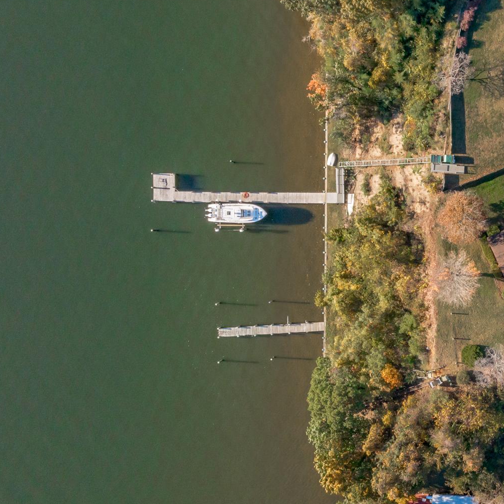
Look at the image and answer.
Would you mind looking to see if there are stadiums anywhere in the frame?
No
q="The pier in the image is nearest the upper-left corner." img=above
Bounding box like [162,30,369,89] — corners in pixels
[151,167,345,204]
